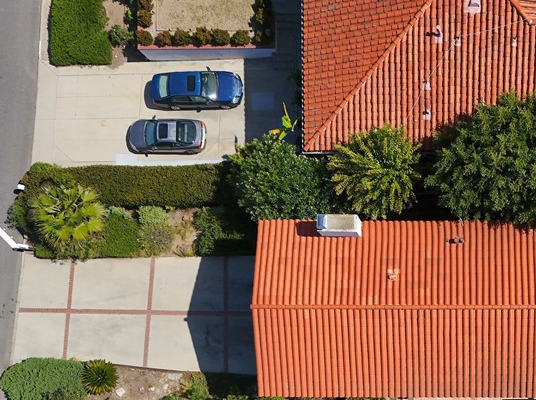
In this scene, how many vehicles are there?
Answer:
2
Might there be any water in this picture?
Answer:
No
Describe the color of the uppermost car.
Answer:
blue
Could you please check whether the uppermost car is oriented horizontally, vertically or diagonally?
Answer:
horizontally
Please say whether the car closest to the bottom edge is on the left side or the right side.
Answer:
left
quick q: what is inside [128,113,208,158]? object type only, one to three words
car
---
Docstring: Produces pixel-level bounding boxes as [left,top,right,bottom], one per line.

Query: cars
[128,113,208,158]
[150,67,245,114]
